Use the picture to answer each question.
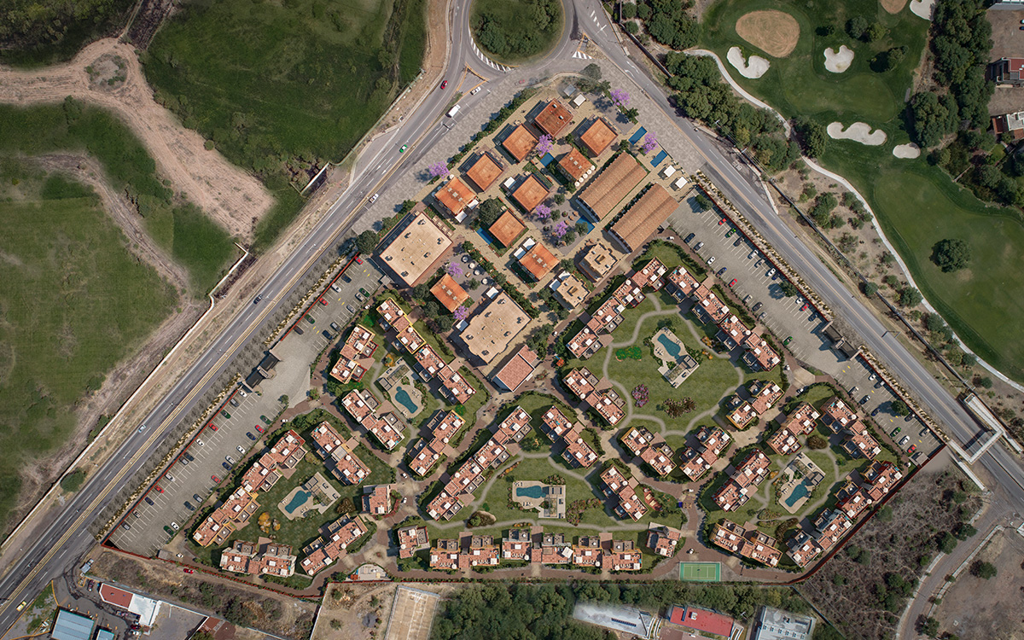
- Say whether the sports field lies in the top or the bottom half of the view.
bottom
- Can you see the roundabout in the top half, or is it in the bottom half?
top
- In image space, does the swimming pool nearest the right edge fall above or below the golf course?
below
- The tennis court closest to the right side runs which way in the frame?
from side to side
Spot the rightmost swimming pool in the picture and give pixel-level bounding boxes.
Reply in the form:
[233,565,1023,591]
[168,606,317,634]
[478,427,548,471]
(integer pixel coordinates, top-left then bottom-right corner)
[776,452,824,516]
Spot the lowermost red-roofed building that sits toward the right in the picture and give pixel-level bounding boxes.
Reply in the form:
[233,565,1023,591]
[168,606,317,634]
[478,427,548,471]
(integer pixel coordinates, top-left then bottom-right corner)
[668,602,735,638]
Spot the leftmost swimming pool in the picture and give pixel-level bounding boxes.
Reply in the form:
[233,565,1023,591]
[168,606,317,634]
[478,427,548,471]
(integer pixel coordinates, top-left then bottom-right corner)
[274,470,333,525]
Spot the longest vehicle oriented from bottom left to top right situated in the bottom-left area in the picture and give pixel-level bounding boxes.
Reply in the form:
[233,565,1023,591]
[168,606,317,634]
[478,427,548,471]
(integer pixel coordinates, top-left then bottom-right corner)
[79,559,94,575]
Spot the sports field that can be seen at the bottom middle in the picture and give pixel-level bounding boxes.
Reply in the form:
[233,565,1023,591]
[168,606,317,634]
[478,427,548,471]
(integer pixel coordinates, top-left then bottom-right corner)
[384,586,437,640]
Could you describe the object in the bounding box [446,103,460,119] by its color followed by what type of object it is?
white vehicle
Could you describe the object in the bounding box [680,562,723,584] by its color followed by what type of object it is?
green tennis court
